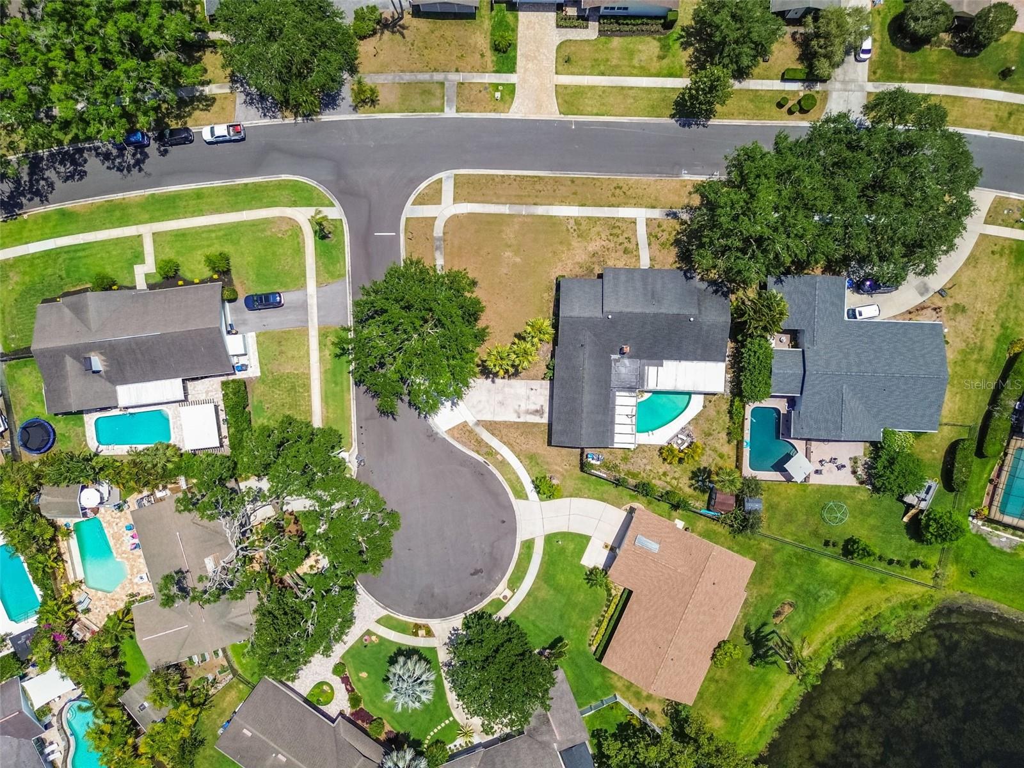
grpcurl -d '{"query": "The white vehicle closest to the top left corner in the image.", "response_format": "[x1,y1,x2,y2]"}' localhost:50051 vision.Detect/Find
[201,122,244,141]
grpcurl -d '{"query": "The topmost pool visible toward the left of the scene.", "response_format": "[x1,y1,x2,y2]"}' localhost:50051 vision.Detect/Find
[91,406,175,451]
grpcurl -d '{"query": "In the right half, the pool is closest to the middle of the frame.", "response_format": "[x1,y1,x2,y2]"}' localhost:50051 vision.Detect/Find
[635,391,695,437]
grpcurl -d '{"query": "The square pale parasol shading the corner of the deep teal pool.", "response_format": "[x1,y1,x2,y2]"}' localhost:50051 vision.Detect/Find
[783,452,814,482]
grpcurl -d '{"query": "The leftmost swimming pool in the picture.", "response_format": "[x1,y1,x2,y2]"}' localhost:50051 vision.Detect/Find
[0,541,40,627]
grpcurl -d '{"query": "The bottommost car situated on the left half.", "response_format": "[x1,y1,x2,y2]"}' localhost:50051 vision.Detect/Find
[243,292,280,310]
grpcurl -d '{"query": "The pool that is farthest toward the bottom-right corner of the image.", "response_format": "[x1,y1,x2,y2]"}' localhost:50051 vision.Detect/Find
[996,438,1024,523]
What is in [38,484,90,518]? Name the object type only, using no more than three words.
shed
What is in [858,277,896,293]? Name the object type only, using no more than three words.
car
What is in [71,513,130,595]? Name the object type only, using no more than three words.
swimming pool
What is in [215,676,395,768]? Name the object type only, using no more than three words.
house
